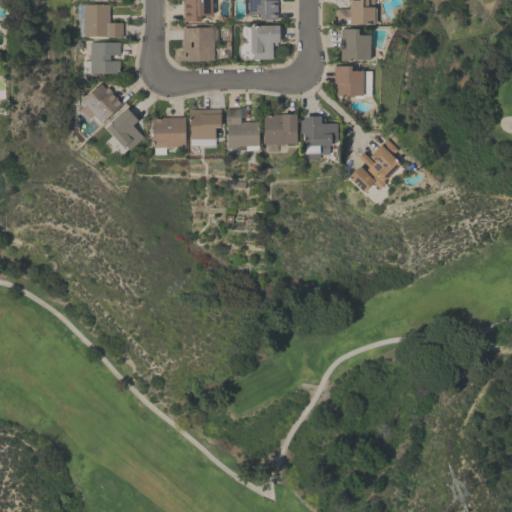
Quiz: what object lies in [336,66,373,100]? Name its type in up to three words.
house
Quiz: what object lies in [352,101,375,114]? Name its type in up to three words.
swimming pool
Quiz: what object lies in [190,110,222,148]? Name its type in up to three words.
house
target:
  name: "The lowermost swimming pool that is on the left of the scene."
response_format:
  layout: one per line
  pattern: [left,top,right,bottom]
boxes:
[80,115,100,138]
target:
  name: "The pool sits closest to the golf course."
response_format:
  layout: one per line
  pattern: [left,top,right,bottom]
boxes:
[402,174,424,186]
